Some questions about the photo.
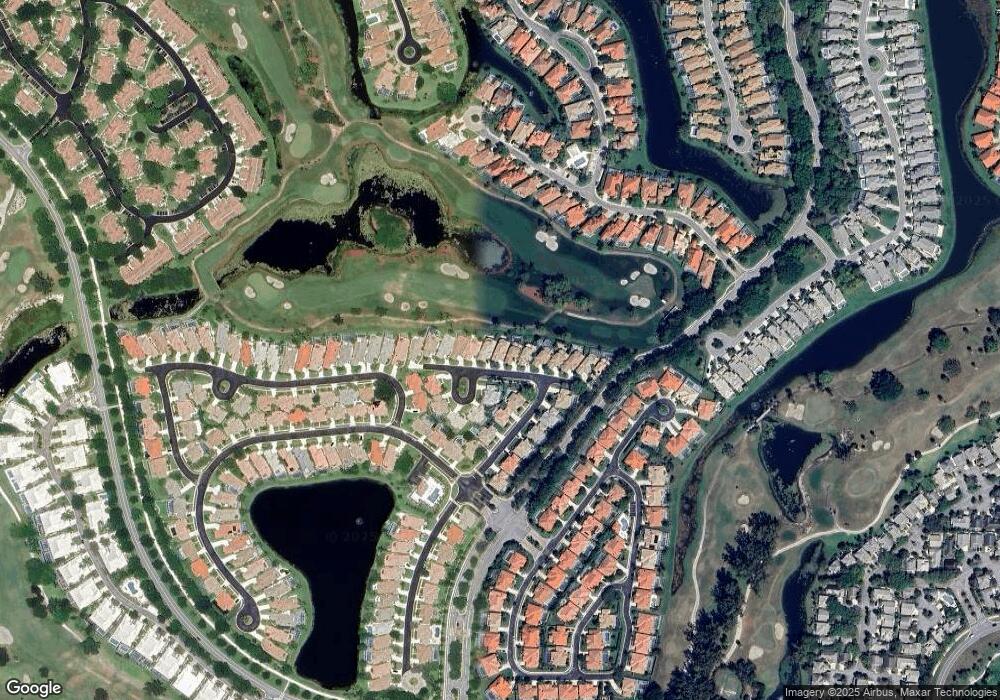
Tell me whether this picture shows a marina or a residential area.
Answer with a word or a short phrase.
residential area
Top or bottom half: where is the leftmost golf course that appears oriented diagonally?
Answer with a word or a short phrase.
bottom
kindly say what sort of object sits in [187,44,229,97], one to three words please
building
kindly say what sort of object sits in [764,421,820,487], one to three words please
pond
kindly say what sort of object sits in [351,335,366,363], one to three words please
house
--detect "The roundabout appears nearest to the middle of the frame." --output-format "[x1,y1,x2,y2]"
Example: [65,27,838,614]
[451,372,479,404]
